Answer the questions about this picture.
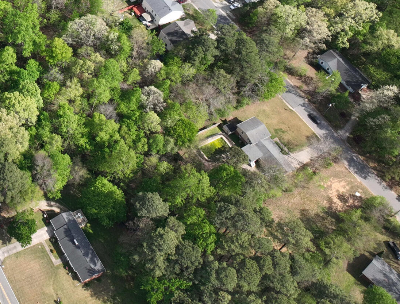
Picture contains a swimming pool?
Yes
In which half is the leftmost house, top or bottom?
bottom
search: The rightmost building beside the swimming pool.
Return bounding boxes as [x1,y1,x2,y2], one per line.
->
[229,120,293,186]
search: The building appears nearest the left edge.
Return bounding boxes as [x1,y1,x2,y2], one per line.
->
[46,212,108,289]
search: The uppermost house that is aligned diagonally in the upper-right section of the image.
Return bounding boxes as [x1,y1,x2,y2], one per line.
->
[318,51,373,98]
